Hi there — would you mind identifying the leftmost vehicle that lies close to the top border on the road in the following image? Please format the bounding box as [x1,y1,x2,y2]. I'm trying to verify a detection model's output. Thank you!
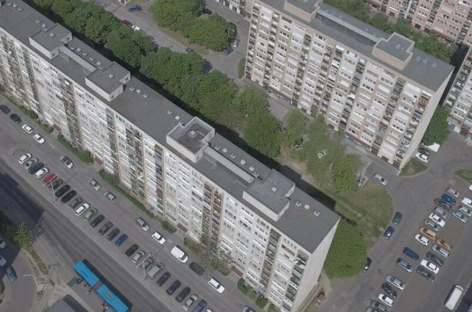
[127,1,142,13]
